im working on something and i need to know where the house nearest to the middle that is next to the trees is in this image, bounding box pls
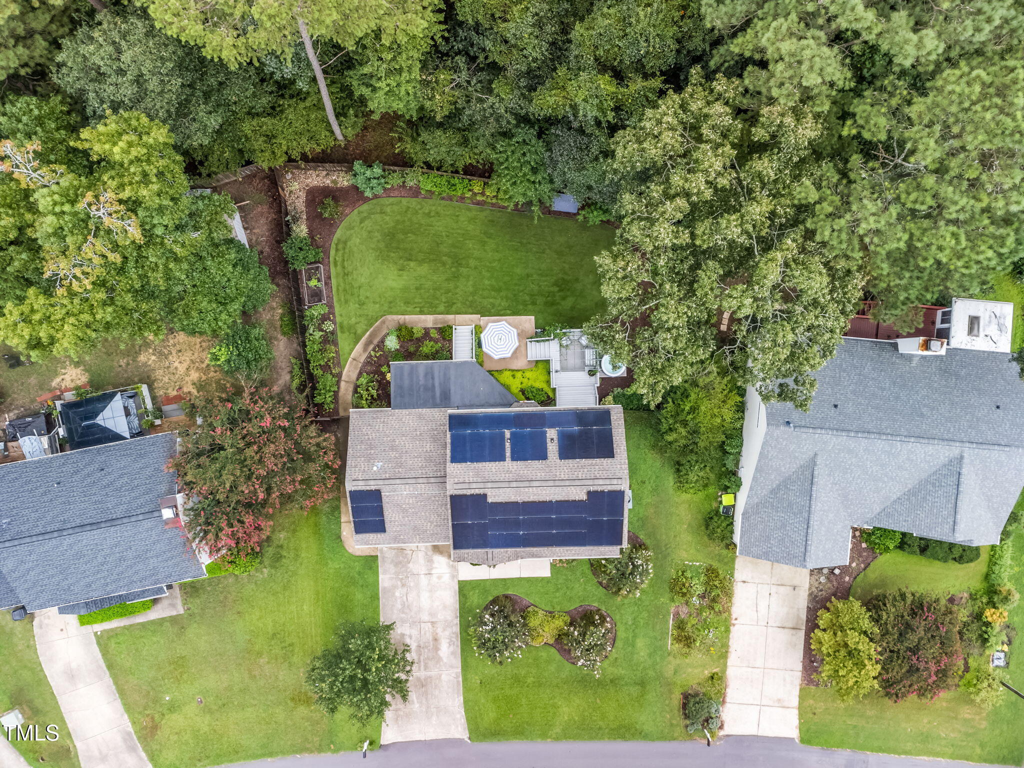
[342,357,632,572]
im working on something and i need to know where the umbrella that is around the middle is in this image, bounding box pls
[481,321,521,361]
